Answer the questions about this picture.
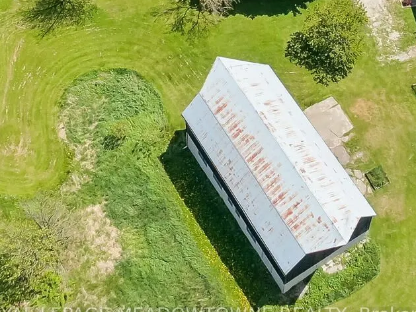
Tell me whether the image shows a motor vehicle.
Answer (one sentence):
No, the scene contains no motor vehicle.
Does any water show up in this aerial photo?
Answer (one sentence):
No, the picture contains no water.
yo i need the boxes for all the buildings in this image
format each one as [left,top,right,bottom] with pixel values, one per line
[180,57,378,290]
